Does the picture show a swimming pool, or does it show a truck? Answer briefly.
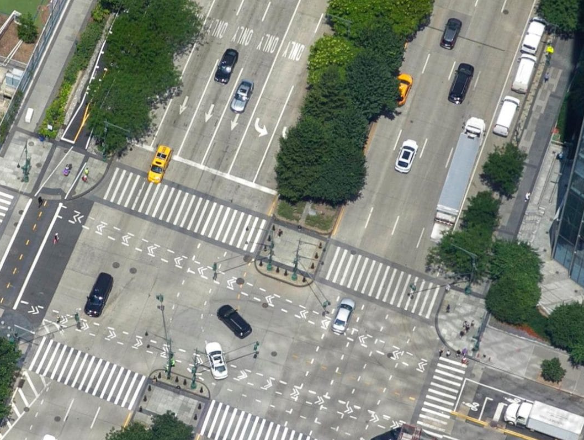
truck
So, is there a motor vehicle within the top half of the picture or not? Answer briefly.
Yes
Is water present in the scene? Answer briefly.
No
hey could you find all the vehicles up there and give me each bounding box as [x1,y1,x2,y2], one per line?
[372,426,405,440]
[232,79,254,114]
[493,96,518,138]
[522,17,545,55]
[510,54,535,94]
[396,141,416,175]
[397,76,414,108]
[148,145,171,183]
[440,19,461,51]
[87,272,114,318]
[448,63,473,106]
[502,405,584,440]
[205,344,227,381]
[215,48,237,86]
[331,299,353,335]
[431,121,485,244]
[217,305,252,340]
